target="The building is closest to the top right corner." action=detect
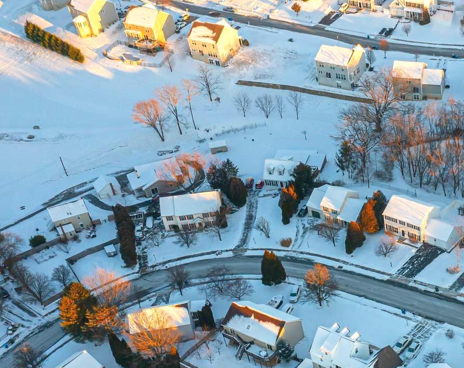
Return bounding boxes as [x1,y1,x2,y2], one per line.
[390,0,430,21]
